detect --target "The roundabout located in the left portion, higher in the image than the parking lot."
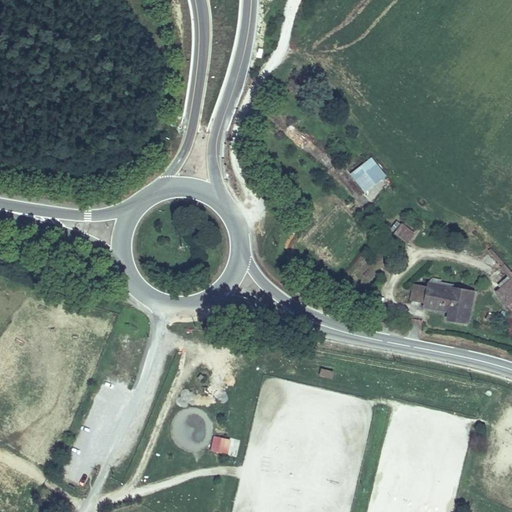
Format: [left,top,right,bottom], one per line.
[59,118,278,317]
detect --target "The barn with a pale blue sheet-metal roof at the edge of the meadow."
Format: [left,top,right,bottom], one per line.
[351,157,388,201]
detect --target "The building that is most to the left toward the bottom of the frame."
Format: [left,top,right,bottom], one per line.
[210,436,240,458]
